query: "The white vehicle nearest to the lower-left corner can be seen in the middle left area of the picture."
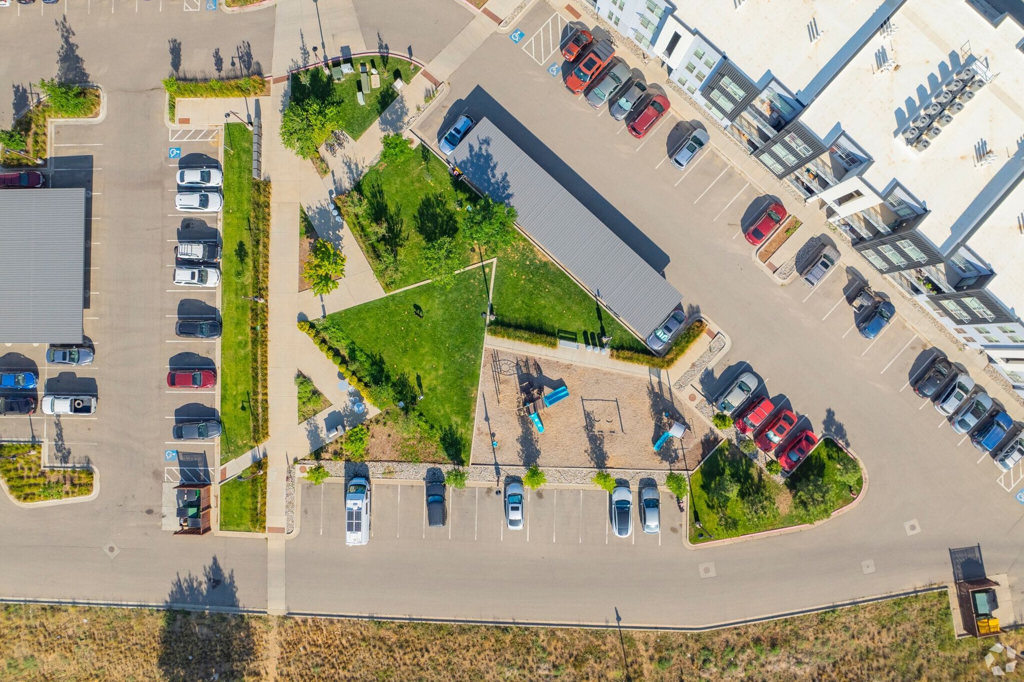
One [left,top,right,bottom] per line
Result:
[42,394,100,417]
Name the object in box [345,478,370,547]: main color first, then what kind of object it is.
white vehicle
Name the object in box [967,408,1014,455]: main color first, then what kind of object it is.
blue car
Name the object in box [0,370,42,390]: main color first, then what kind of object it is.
blue car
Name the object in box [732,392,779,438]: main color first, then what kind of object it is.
red car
